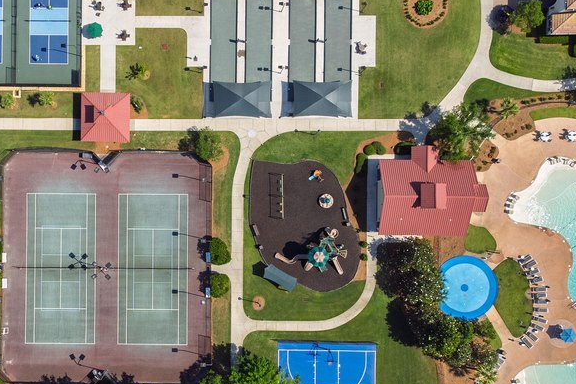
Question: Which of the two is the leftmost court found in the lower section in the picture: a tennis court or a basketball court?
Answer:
tennis court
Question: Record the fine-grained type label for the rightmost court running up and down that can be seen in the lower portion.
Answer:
tennis court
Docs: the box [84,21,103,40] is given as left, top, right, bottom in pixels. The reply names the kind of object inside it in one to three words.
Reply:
umbrella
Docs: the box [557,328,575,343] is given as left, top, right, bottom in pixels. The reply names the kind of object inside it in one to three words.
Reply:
umbrella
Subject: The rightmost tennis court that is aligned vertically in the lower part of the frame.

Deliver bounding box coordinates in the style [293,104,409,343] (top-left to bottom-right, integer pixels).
[105,152,211,383]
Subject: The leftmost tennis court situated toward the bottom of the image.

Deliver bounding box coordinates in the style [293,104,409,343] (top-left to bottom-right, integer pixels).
[3,151,106,383]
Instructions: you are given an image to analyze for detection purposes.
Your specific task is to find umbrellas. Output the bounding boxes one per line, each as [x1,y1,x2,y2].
[557,328,575,343]
[84,21,103,40]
